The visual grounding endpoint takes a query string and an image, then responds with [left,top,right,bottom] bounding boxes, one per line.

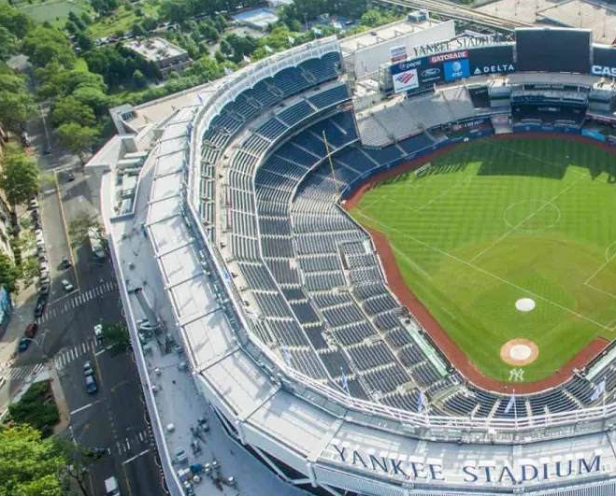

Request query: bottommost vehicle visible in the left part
[101,472,119,496]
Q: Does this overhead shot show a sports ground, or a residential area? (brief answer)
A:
sports ground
